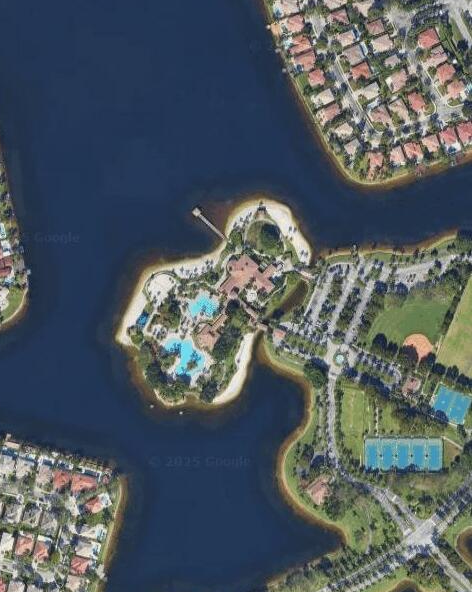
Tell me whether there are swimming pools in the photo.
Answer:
Yes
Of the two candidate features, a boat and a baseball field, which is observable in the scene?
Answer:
baseball field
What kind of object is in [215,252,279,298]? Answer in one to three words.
building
